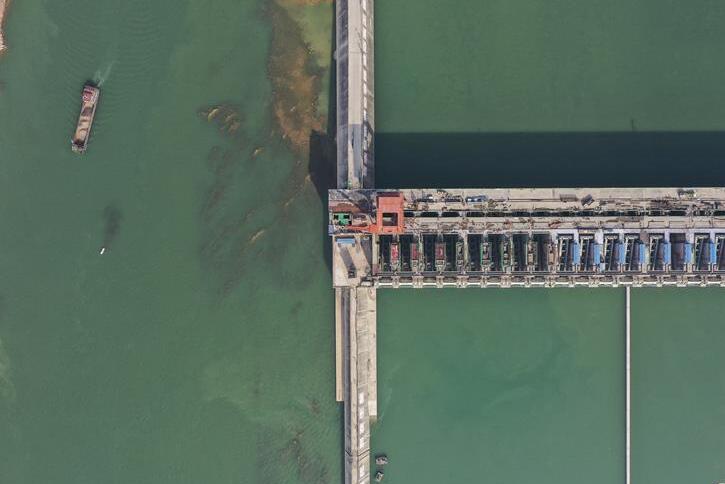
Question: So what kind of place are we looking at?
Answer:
port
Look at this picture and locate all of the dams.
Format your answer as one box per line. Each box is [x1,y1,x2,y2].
[371,188,725,287]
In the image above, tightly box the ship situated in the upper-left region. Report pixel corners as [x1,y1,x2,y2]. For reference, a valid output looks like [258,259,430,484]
[71,83,98,153]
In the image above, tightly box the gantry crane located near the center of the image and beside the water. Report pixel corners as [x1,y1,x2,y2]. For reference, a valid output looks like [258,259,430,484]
[346,192,404,236]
